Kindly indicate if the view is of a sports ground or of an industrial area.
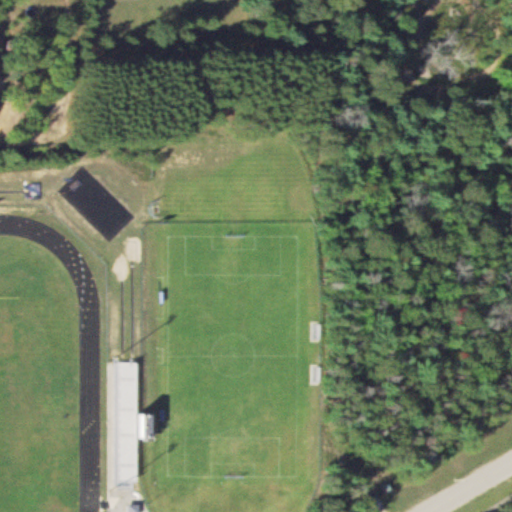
sports ground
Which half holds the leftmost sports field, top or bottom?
bottom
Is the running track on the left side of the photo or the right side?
left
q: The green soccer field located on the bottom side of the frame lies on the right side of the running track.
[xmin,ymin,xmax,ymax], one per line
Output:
[150,224,318,512]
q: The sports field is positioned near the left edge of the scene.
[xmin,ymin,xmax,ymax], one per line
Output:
[0,236,80,512]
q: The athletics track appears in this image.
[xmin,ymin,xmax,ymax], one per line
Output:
[0,216,100,512]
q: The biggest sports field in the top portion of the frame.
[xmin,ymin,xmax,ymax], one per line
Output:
[161,140,313,218]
